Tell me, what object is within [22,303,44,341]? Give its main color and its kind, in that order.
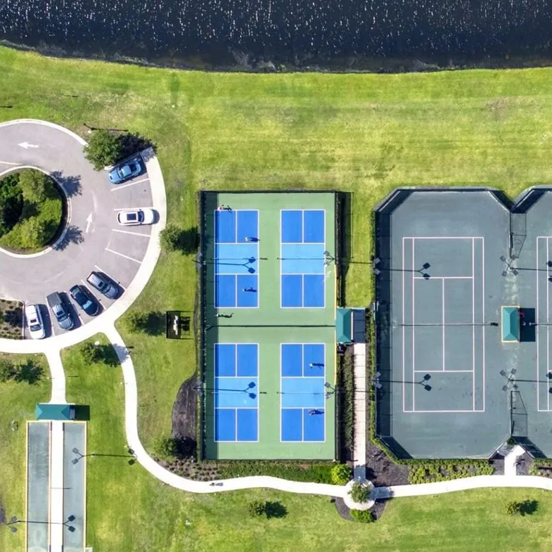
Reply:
white car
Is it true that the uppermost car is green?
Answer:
No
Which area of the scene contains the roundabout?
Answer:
left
